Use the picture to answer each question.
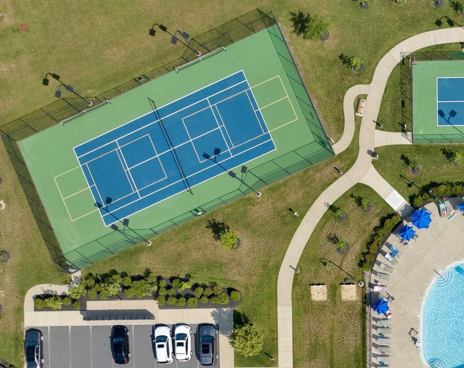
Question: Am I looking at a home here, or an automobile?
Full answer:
Of the two, only an automobile appears.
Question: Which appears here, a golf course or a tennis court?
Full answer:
The one in the frame is a tennis court.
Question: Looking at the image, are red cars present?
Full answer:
No, I find no red car anywhere in the image.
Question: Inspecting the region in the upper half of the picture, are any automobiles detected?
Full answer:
No, there's no automobile to be seen in the upper half of the picture.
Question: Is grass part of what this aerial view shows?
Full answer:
Yes, the picture does contain grass.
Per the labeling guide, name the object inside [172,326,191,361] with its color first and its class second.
white car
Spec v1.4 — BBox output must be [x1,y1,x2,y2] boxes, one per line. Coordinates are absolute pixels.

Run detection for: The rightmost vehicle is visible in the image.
[196,325,216,364]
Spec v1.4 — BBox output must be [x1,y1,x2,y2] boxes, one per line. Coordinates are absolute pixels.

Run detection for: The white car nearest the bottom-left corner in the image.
[152,326,173,363]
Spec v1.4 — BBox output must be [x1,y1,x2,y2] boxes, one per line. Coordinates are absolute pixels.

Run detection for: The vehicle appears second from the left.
[109,326,129,363]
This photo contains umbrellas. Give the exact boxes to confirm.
[411,208,433,230]
[398,222,417,242]
[454,200,464,215]
[372,297,390,315]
